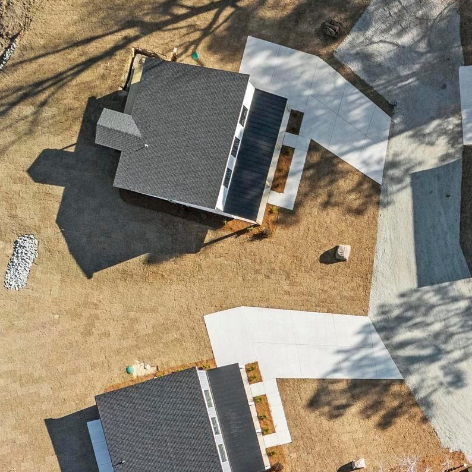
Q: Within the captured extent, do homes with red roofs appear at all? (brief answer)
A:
No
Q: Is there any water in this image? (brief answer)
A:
No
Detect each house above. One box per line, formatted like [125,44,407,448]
[94,57,289,227]
[93,364,270,472]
